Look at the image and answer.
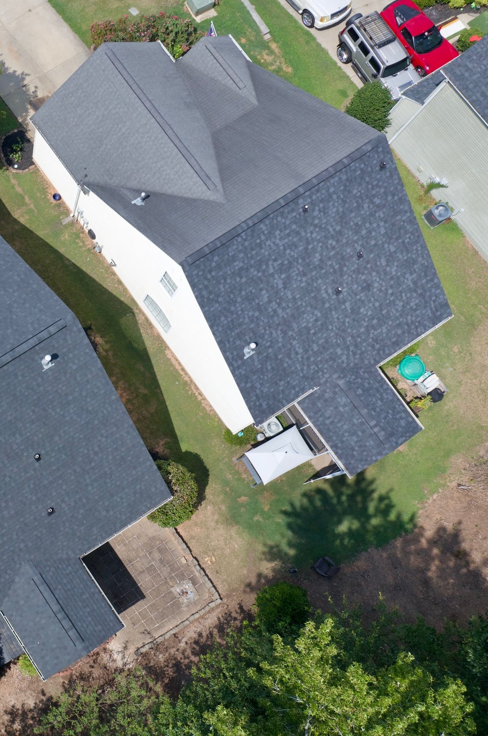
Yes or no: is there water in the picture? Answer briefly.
No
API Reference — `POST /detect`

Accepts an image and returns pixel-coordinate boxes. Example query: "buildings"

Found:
[0,236,181,685]
[26,33,458,479]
